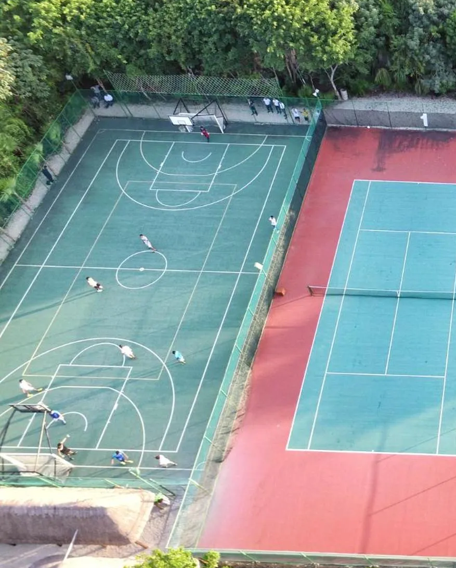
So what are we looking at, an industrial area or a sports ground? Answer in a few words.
sports ground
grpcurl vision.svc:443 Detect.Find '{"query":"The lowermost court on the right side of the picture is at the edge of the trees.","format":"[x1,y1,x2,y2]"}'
[197,127,456,568]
